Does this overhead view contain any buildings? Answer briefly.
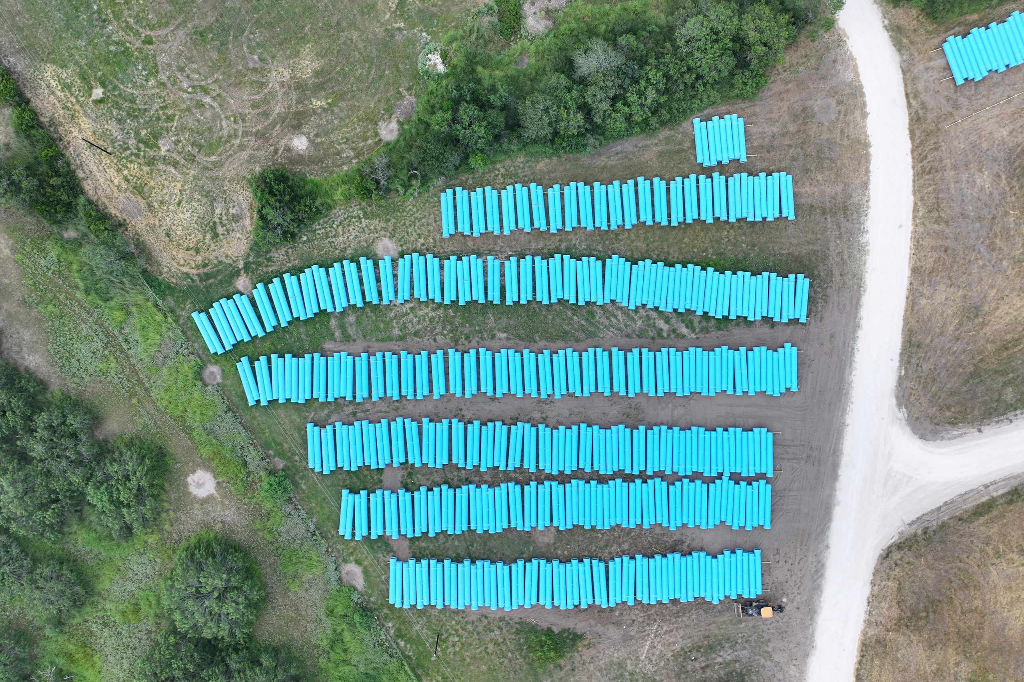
No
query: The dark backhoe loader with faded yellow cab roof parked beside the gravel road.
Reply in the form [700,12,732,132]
[733,599,787,620]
